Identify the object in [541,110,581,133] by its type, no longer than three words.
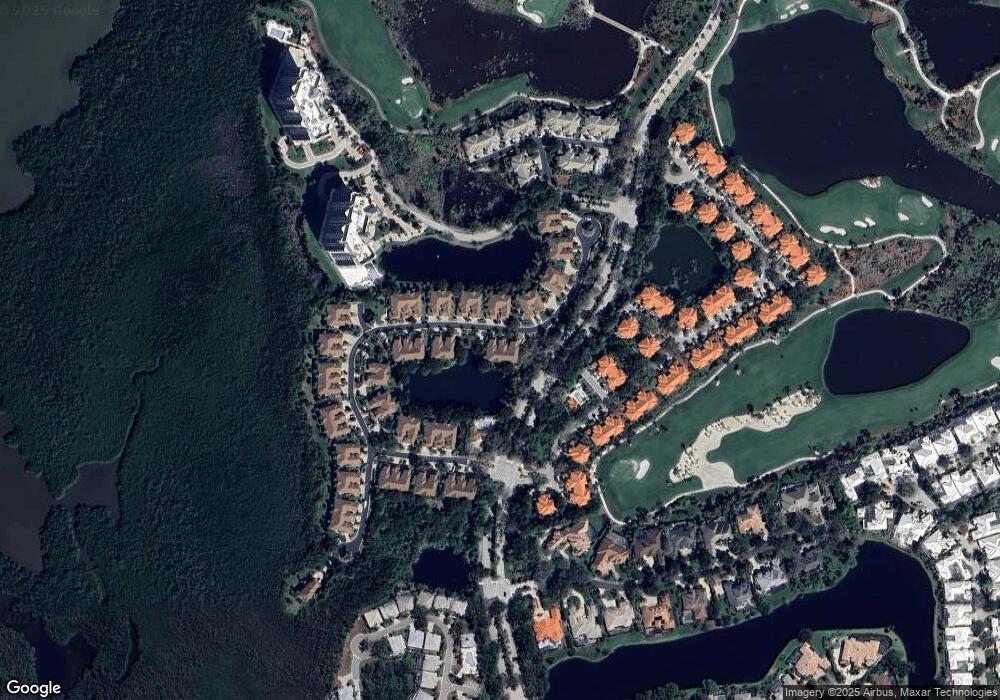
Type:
building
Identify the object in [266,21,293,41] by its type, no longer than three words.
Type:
swimming pool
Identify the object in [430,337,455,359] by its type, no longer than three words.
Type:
house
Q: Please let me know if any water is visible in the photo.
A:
Yes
